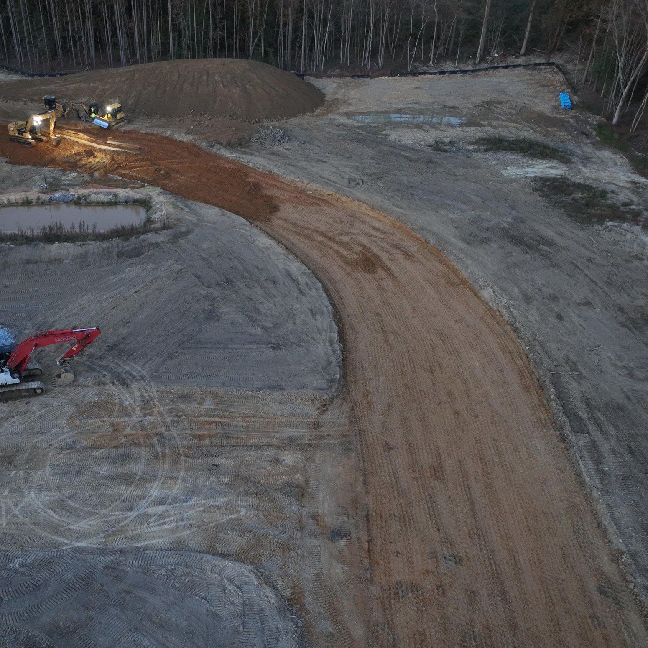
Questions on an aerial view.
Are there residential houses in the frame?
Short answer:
No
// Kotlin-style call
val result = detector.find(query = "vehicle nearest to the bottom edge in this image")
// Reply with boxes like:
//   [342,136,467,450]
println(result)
[0,325,102,399]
